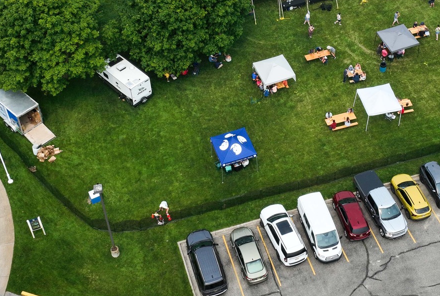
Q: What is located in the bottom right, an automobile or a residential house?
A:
automobile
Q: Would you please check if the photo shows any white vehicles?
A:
Yes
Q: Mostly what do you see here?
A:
grass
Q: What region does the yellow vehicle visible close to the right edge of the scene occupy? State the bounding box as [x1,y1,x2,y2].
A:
[387,167,437,227]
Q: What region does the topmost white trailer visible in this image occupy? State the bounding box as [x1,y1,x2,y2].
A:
[95,55,157,113]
